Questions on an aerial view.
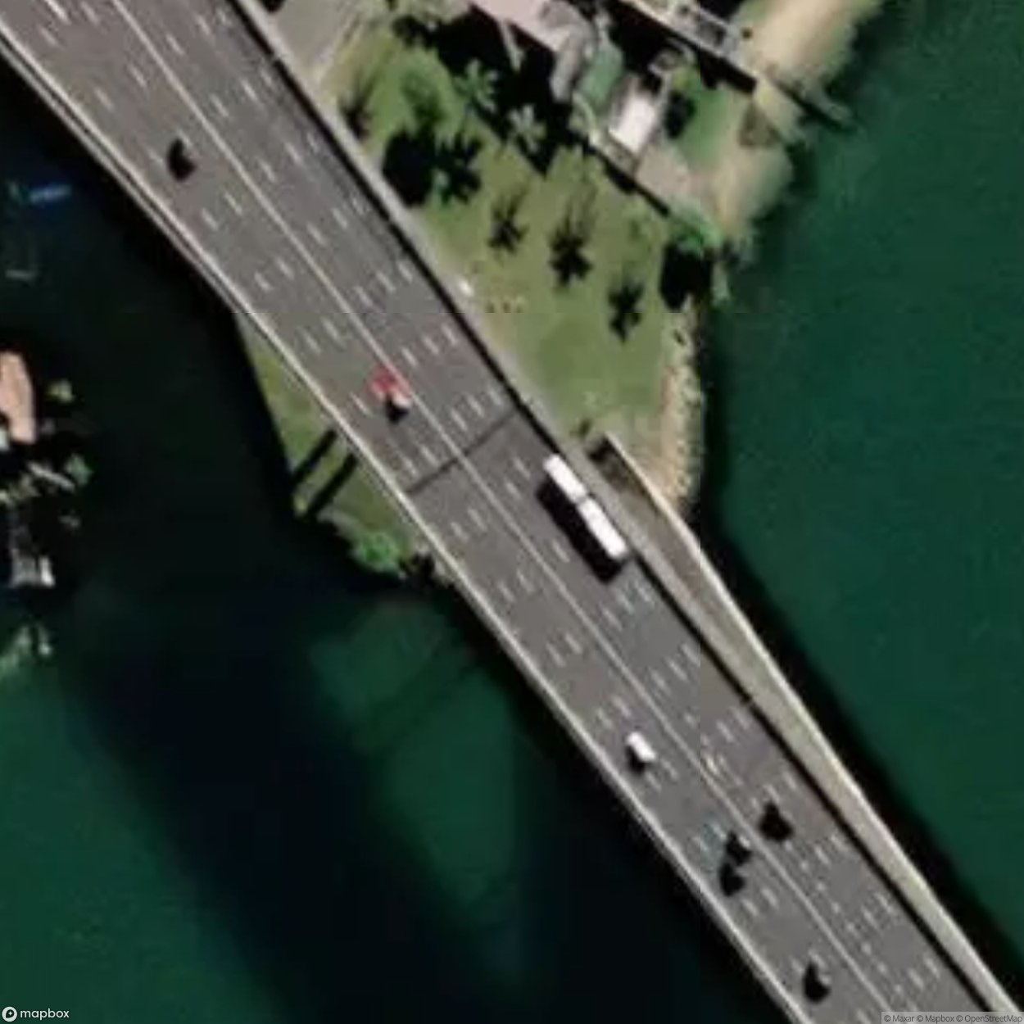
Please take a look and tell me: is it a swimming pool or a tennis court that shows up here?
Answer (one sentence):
It is a swimming pool that can be seen here.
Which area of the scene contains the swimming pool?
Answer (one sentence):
The swimming pool appears toward the top of the photo.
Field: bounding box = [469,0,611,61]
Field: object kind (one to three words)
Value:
house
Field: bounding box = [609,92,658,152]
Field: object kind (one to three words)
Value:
building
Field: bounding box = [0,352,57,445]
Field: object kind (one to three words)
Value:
house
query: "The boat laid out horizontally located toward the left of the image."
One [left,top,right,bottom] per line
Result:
[28,185,70,203]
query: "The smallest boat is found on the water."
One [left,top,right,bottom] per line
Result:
[6,181,21,205]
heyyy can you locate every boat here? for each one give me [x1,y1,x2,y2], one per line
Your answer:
[6,181,21,205]
[28,185,70,203]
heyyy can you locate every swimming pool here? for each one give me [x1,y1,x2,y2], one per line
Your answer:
[584,39,630,110]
